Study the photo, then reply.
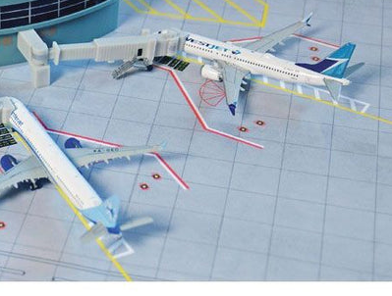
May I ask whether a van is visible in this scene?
No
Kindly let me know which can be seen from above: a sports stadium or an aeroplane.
aeroplane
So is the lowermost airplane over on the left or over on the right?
left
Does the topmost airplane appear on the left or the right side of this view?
right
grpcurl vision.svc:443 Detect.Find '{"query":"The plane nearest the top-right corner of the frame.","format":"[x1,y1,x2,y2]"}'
[189,13,354,115]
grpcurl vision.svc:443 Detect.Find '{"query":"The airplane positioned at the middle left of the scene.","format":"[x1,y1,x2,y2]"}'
[0,102,162,241]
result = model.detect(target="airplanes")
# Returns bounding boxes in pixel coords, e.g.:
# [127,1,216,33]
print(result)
[189,13,354,115]
[0,102,162,241]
